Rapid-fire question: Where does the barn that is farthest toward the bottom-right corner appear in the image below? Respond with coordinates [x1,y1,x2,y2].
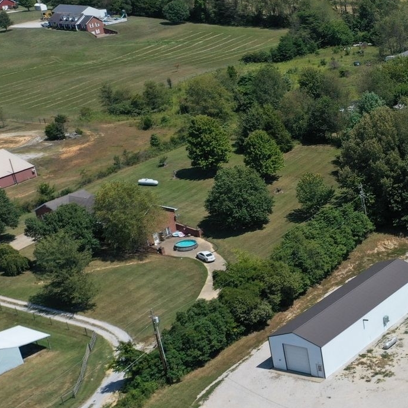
[267,258,408,377]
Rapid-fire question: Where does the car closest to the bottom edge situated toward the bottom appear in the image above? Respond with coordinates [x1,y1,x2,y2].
[195,250,217,262]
